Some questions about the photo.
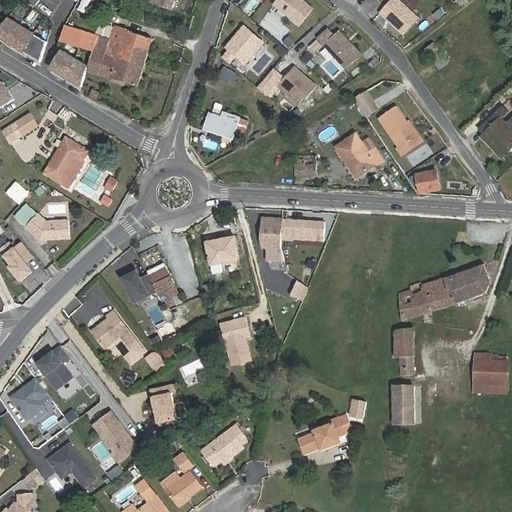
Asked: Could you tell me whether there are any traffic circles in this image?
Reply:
Yes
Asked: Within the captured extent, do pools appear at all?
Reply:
Yes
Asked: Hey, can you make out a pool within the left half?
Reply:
Yes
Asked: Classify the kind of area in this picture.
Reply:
residential area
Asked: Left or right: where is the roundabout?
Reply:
left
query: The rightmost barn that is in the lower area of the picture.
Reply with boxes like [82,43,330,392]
[472,352,509,394]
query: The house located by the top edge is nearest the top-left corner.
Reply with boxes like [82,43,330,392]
[0,17,48,64]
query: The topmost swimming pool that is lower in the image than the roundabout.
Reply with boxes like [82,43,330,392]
[146,303,165,326]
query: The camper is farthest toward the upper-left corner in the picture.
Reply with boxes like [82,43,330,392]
[36,2,52,16]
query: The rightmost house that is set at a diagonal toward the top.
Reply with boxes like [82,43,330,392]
[478,97,512,134]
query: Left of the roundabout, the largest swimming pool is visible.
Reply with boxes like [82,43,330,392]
[78,164,104,193]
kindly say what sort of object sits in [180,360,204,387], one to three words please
shed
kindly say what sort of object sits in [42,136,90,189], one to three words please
house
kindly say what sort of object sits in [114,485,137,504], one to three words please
swimming pool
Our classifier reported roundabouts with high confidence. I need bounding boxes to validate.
[140,158,210,230]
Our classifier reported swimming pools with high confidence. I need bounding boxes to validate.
[202,139,219,152]
[146,303,165,326]
[255,52,273,76]
[114,485,137,504]
[76,186,90,198]
[244,0,259,11]
[448,180,462,190]
[418,20,430,32]
[78,164,104,193]
[42,414,58,428]
[91,441,112,463]
[318,126,336,142]
[323,59,340,78]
